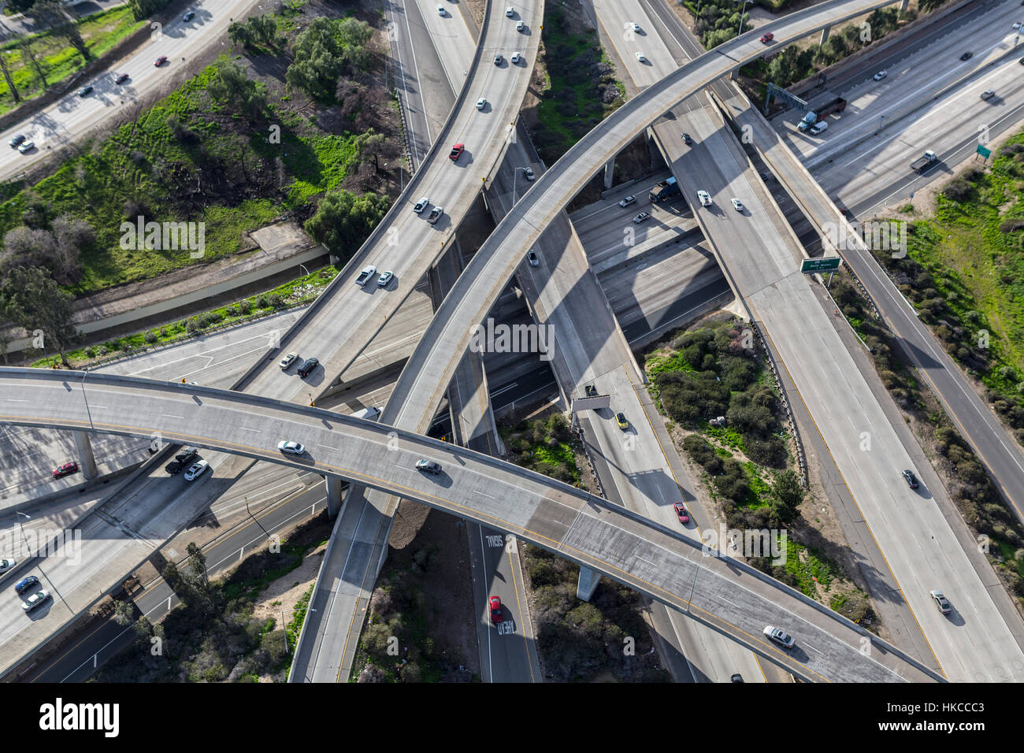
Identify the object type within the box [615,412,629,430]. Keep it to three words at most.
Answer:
car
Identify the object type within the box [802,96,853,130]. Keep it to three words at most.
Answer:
truck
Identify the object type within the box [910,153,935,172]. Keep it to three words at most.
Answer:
vehicle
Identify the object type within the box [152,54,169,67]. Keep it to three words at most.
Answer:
vehicle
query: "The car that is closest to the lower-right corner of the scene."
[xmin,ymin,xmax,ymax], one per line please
[931,590,951,615]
